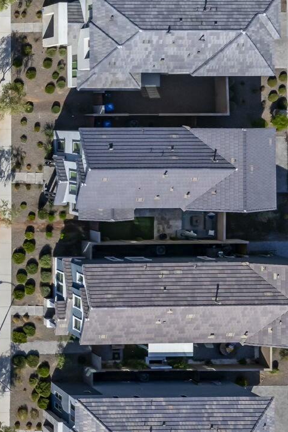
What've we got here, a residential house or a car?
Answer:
residential house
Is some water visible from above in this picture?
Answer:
No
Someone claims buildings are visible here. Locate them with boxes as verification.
[43,381,275,432]
[37,255,288,357]
[43,0,283,92]
[39,127,277,223]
